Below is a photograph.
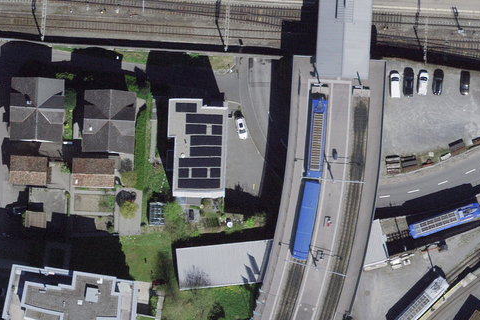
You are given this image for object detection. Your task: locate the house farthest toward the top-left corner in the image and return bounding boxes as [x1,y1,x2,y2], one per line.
[10,77,64,142]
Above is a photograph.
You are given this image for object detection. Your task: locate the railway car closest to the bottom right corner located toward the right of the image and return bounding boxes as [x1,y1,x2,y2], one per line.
[396,276,448,320]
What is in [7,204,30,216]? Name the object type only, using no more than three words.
vehicle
